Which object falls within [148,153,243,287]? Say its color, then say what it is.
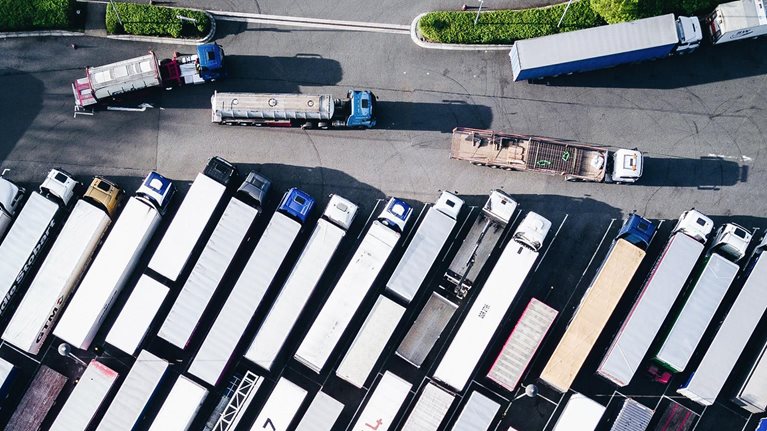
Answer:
white truck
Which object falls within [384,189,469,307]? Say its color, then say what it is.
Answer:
white truck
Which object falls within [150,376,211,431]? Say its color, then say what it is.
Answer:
white trailer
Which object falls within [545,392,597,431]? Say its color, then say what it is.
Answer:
white trailer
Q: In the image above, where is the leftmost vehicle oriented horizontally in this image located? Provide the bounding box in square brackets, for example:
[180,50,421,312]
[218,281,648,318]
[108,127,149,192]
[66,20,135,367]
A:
[72,38,239,118]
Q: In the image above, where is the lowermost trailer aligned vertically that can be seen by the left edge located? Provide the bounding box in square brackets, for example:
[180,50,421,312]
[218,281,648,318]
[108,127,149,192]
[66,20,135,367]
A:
[0,358,24,415]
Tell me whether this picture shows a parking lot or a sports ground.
parking lot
